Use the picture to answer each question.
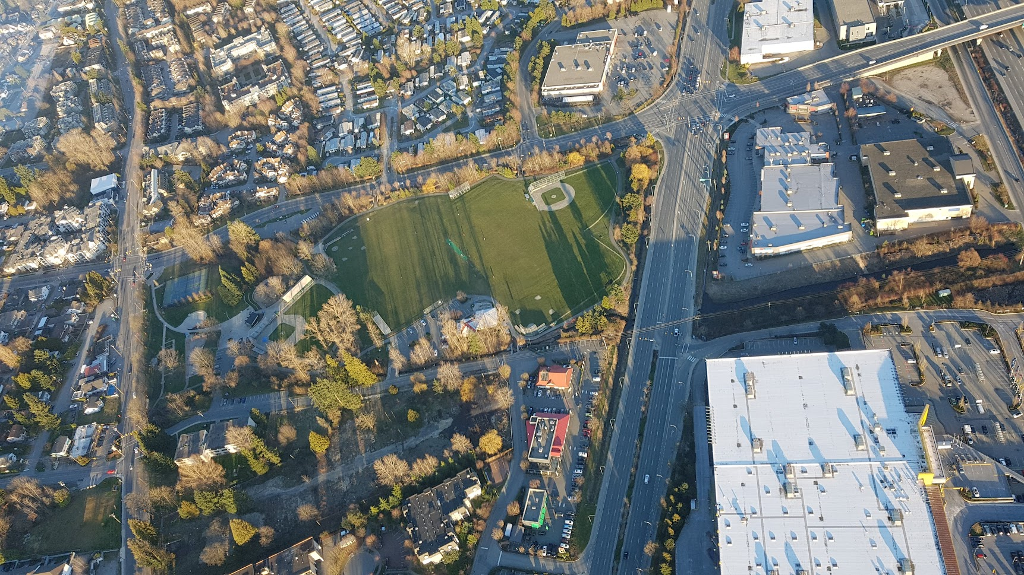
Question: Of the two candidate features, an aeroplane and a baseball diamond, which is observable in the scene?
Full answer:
I can see a baseball diamond in this picture.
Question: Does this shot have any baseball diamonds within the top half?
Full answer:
Yes, the scene does show a baseball diamond within the top half.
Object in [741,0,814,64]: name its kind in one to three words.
building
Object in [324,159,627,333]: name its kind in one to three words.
soccer field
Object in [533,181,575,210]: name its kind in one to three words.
baseball field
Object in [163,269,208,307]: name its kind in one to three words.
tennis court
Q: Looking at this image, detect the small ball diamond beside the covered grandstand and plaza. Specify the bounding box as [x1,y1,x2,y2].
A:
[257,284,332,345]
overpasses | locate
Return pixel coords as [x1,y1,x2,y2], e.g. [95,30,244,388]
[814,3,1024,83]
